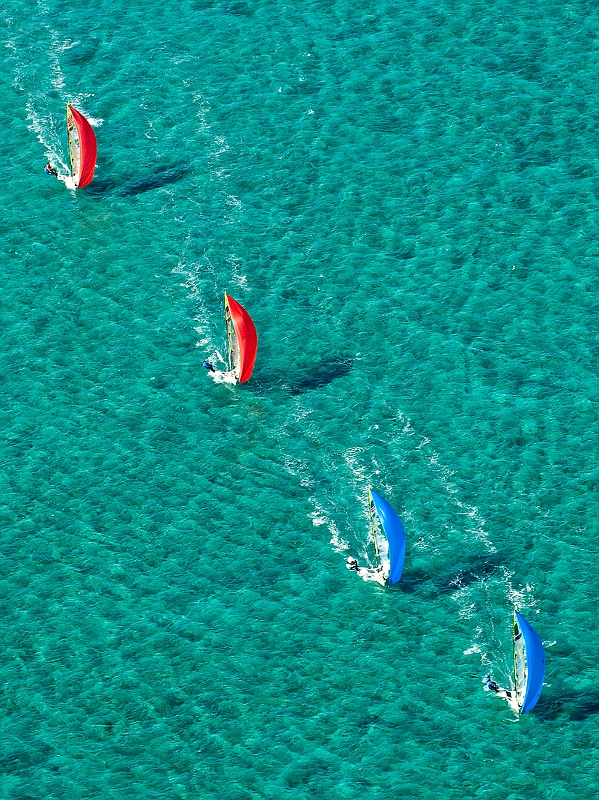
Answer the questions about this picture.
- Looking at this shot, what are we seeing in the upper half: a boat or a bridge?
boat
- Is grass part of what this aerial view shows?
No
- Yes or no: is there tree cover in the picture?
No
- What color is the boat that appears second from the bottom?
blue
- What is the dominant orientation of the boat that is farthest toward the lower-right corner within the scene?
up and down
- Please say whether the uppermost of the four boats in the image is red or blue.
red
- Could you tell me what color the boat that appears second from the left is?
red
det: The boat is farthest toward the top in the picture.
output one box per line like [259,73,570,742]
[52,103,97,190]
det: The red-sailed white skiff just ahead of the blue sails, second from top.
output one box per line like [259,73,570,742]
[211,291,260,385]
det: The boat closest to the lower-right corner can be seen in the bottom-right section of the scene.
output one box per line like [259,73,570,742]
[490,605,547,716]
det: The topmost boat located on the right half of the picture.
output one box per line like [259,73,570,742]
[356,486,408,588]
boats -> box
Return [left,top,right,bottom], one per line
[211,291,260,385]
[356,486,408,588]
[490,605,547,716]
[52,103,97,190]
